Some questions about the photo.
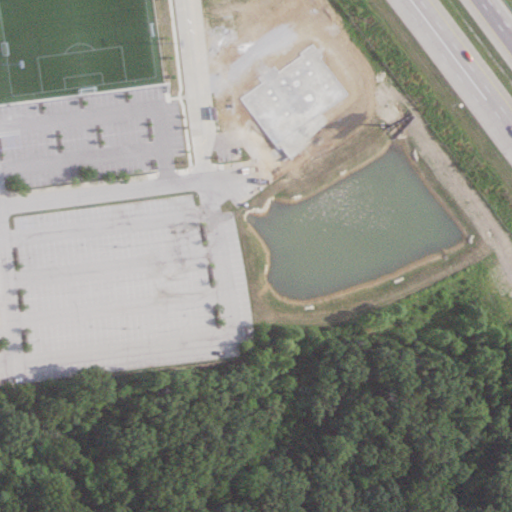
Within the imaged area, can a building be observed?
Yes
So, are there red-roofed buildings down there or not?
No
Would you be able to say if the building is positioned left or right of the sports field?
on its right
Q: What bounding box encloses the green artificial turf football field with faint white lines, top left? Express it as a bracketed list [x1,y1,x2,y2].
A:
[0,0,162,102]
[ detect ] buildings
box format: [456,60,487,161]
[240,44,348,158]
